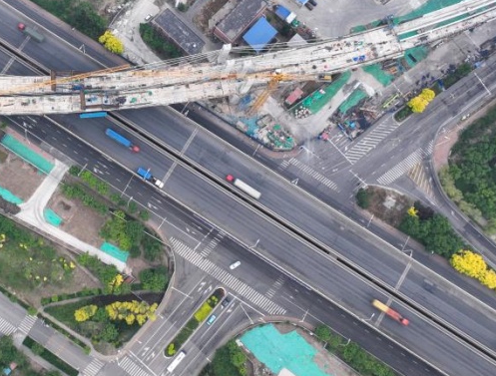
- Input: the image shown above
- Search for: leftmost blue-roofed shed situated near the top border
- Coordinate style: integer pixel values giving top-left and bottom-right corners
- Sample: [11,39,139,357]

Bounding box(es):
[242,17,278,55]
